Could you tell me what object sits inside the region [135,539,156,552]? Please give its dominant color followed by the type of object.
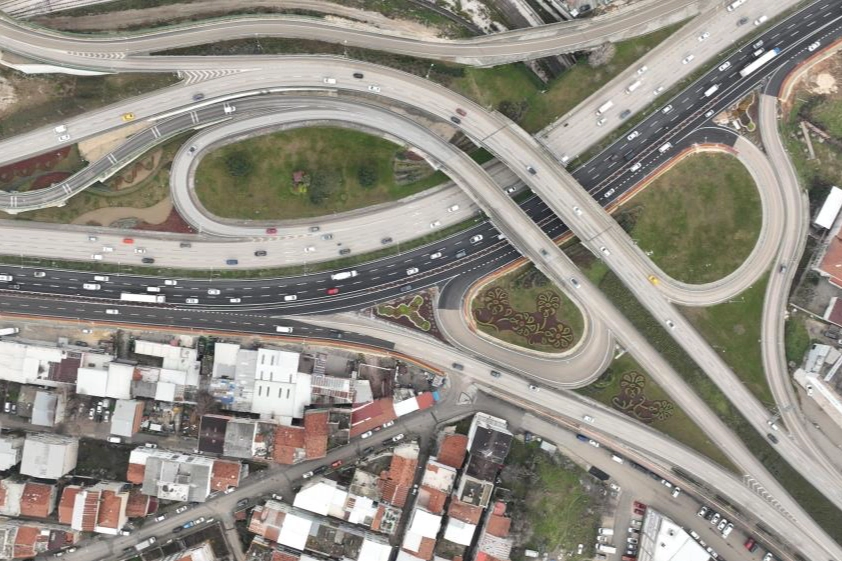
white vehicle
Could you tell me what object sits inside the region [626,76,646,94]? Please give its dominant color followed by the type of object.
white vehicle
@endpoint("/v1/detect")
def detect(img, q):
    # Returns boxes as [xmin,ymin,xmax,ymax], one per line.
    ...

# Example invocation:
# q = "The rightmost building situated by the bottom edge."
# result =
[651,510,717,561]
